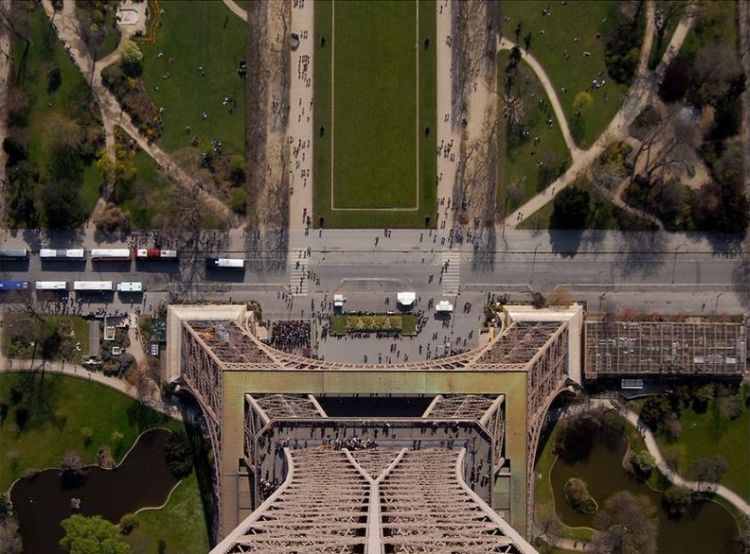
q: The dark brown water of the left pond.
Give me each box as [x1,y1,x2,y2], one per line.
[9,428,188,554]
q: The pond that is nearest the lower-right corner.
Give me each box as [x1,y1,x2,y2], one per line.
[551,418,740,554]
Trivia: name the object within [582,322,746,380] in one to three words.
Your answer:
building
